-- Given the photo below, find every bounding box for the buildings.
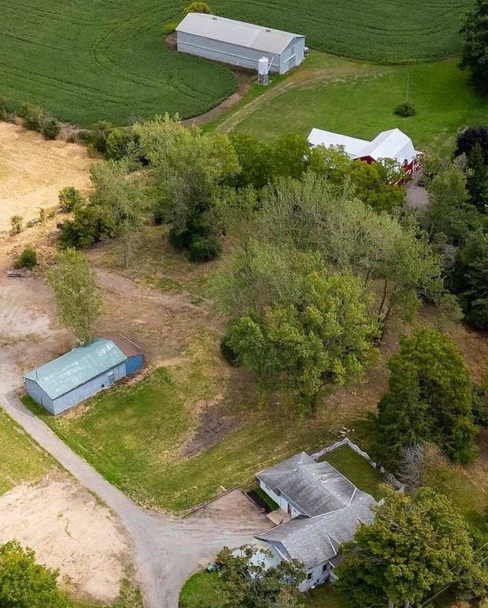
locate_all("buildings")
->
[22,338,144,417]
[253,452,377,589]
[175,12,308,75]
[298,129,431,180]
